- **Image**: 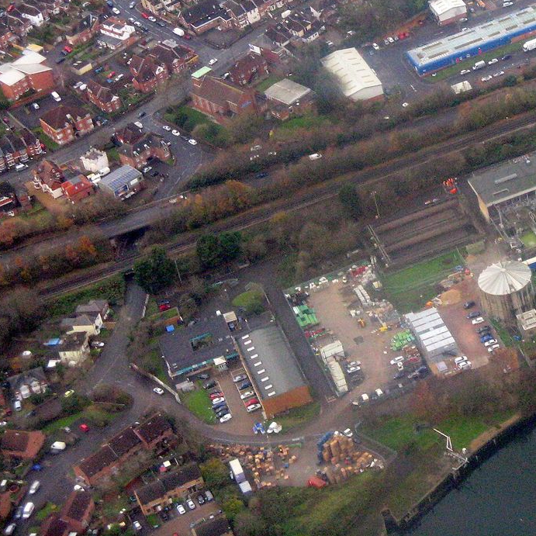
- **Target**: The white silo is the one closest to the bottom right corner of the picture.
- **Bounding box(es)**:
[480,260,536,316]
